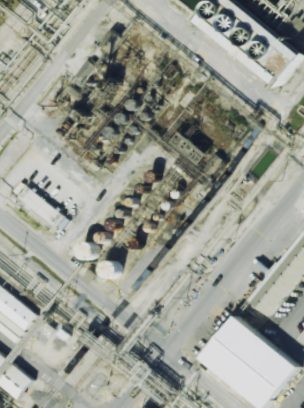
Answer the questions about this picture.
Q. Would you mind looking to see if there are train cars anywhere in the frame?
Yes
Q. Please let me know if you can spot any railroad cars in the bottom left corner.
Yes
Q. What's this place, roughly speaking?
industrial area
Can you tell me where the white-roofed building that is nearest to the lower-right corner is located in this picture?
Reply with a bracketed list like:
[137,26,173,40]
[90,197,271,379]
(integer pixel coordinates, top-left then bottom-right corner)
[196,315,302,408]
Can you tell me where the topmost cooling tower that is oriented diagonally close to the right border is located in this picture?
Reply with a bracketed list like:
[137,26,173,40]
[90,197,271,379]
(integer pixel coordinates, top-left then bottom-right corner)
[192,0,304,90]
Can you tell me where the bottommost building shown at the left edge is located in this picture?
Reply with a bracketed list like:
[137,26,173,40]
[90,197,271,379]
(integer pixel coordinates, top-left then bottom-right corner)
[0,364,39,400]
